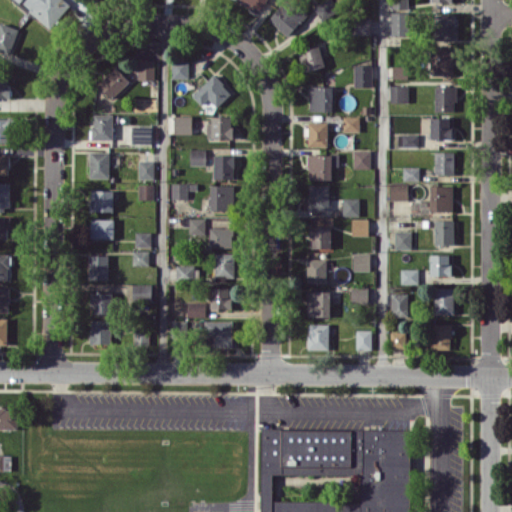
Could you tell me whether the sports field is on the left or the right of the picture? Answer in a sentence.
You can find the sports field on the left side of the picture.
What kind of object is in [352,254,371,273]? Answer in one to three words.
building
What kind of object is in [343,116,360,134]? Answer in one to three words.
building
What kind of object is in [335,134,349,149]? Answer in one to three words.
swimming pool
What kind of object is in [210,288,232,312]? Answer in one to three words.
house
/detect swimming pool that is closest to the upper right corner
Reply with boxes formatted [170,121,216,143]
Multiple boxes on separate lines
[340,94,358,112]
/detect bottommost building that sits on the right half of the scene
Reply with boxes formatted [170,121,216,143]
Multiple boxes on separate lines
[262,431,410,512]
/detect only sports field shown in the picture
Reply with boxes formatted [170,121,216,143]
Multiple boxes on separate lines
[26,431,248,512]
